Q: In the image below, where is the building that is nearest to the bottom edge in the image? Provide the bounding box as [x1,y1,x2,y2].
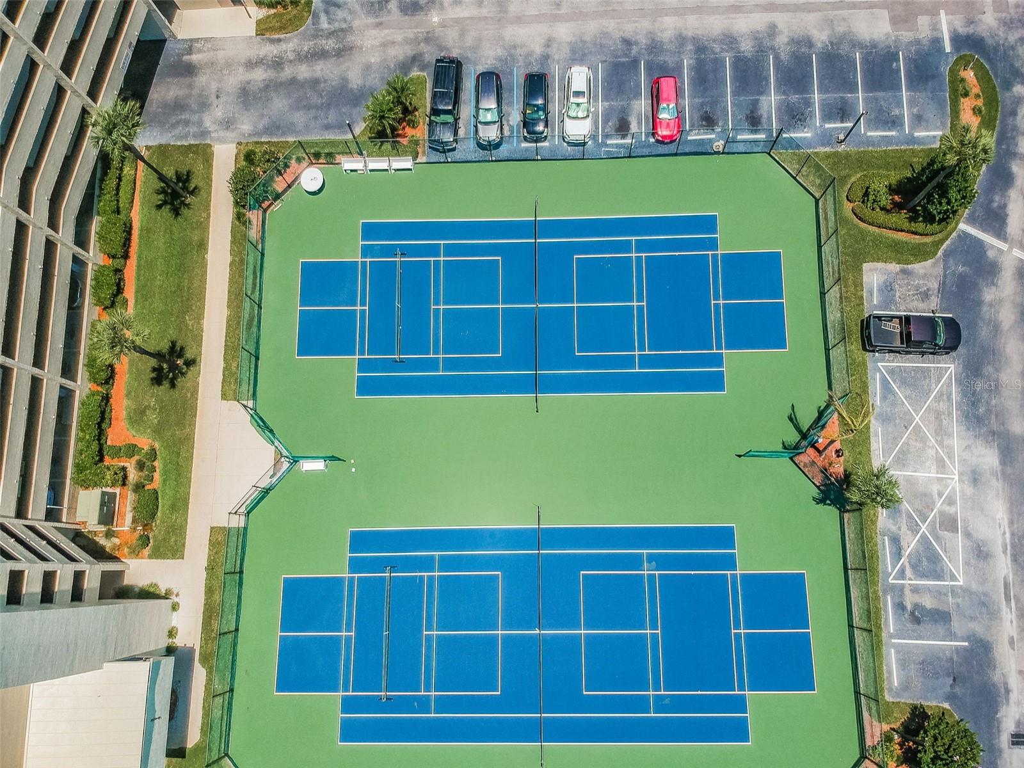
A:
[0,651,179,768]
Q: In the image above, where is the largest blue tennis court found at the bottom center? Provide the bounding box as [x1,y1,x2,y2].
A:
[339,526,751,744]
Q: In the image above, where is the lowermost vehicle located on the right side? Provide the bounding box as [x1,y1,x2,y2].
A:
[858,310,963,354]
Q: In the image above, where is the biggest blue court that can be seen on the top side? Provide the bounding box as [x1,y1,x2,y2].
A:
[354,213,728,399]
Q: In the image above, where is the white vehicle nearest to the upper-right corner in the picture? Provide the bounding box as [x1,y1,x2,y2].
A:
[560,66,597,148]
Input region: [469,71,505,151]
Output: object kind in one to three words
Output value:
car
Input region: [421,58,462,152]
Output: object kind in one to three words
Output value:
car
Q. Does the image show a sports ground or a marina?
sports ground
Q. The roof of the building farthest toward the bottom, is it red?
No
